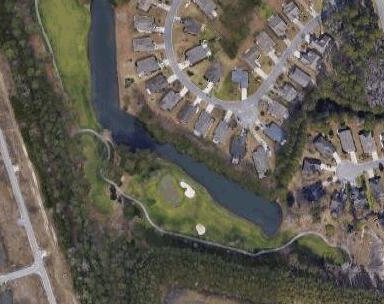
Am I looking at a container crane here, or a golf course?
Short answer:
golf course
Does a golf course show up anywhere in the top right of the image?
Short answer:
No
